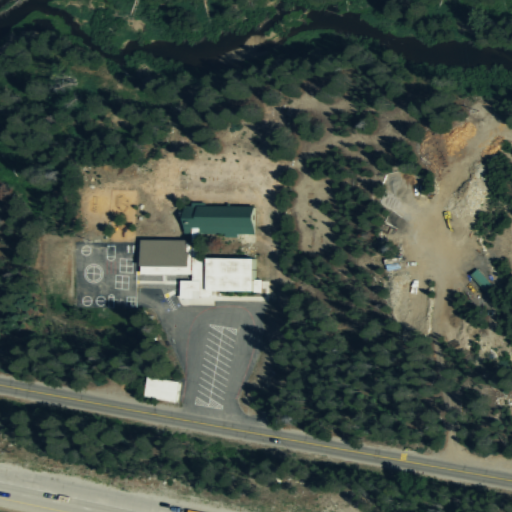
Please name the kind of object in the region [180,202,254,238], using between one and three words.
building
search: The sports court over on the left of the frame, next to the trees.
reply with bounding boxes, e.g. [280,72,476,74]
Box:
[76,242,136,308]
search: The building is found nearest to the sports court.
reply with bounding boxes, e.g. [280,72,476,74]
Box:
[140,240,192,274]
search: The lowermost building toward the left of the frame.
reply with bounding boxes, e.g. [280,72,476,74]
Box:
[144,378,182,402]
